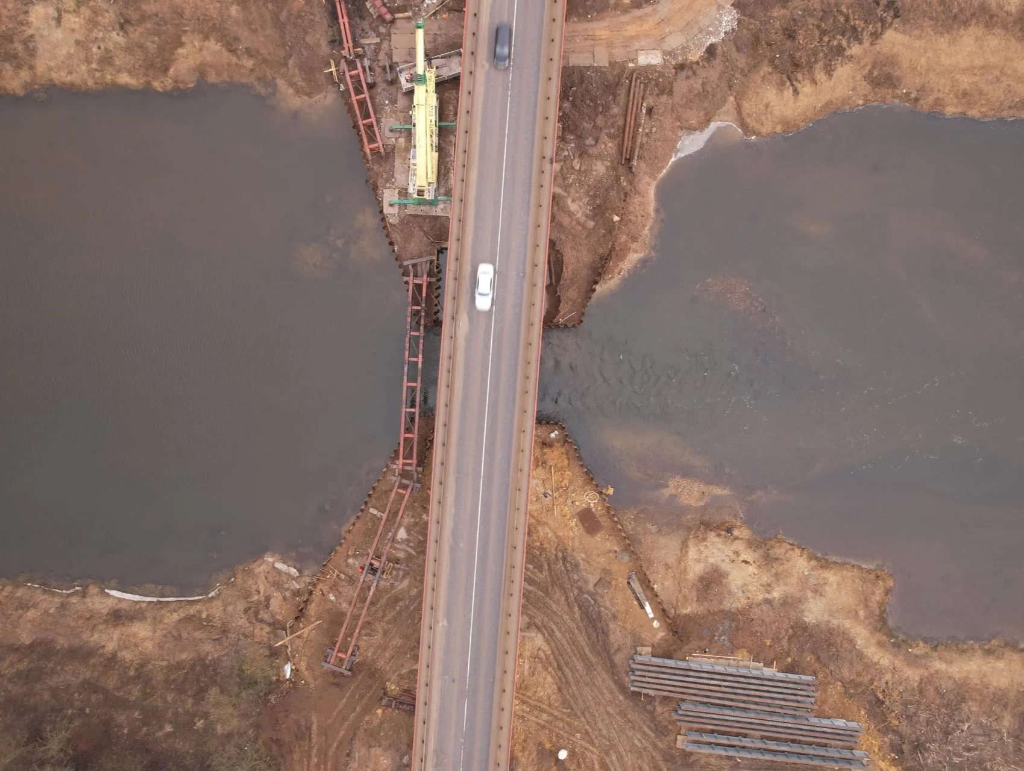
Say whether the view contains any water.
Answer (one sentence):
Yes, some water is visible.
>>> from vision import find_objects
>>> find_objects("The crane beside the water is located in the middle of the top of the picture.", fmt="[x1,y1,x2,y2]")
[387,17,455,207]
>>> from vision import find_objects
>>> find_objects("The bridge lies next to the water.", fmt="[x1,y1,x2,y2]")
[410,0,567,771]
